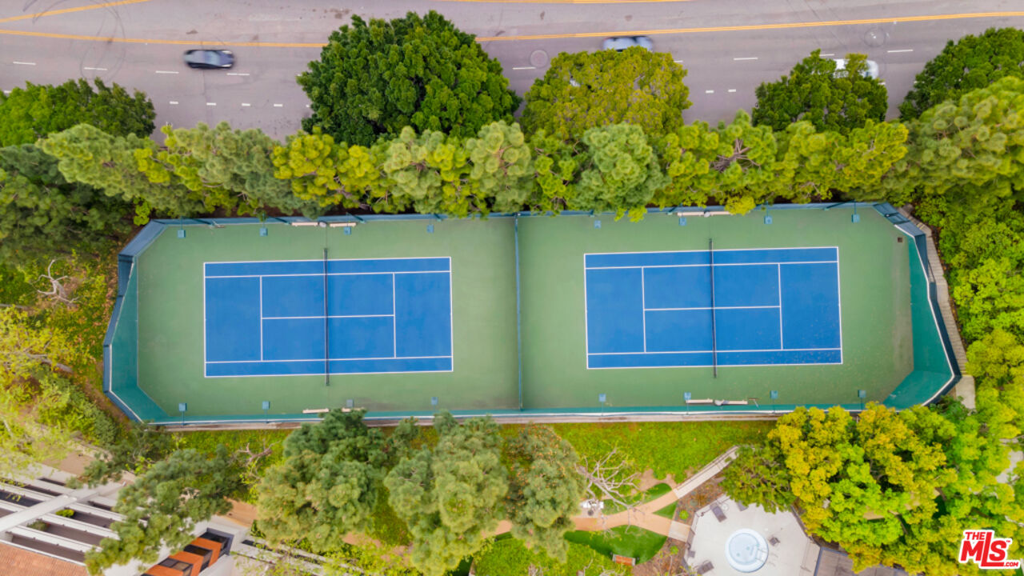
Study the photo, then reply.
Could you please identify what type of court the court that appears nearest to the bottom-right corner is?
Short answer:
tennis court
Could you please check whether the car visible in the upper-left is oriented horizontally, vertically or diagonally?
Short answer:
horizontally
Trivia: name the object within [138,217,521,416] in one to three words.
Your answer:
tennis court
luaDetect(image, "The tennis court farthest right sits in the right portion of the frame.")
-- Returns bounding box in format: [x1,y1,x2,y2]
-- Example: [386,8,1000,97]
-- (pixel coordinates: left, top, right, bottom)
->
[517,206,913,409]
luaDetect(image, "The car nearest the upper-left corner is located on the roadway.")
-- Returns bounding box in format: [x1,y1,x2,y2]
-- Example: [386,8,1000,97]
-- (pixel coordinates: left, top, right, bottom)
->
[184,46,235,71]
